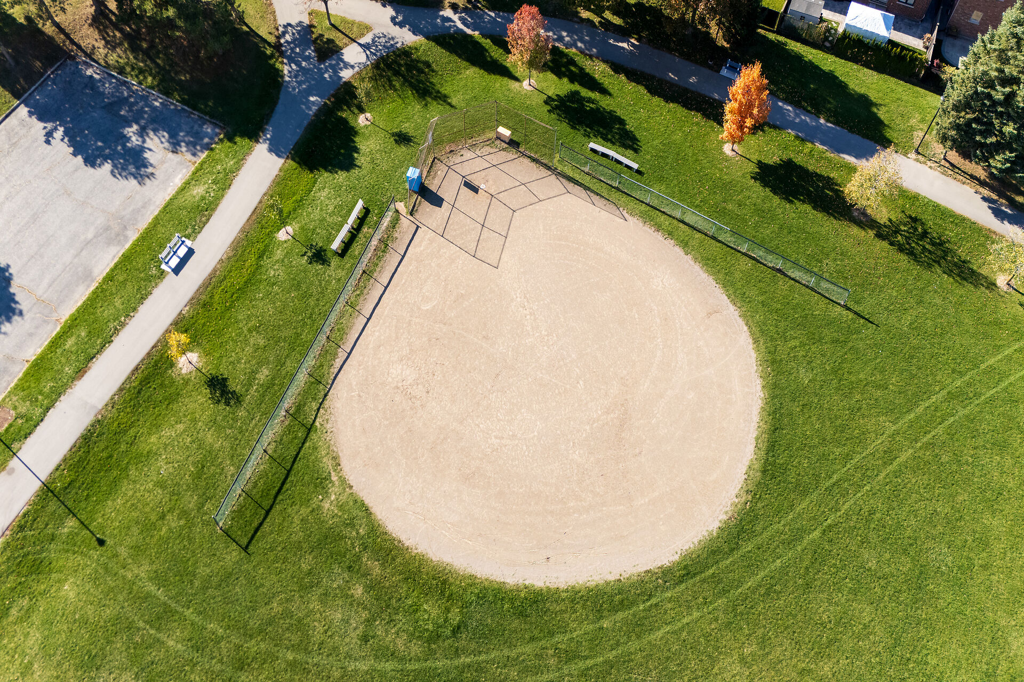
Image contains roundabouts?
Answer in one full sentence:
No, there is no roundabout in the image.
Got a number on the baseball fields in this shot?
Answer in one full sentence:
There is 1 baseball field in the image.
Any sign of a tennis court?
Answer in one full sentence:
No, there appears to be no tennis court in this shot.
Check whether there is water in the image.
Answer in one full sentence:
No, the picture contains no water.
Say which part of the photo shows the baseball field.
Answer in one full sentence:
The baseball field sits in the center section of the image.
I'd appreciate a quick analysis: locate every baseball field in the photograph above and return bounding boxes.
[325,143,764,588]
